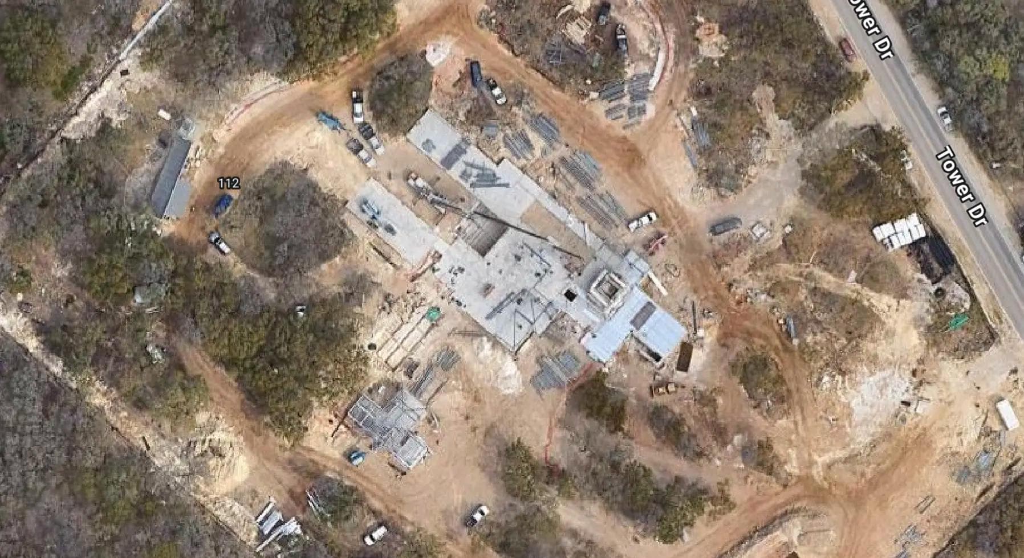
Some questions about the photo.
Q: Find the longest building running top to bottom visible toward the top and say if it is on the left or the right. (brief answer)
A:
left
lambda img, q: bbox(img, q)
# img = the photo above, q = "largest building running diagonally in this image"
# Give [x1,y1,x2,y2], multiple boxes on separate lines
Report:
[346,109,687,365]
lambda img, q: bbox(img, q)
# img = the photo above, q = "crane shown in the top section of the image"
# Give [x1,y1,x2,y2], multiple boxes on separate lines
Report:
[408,171,581,258]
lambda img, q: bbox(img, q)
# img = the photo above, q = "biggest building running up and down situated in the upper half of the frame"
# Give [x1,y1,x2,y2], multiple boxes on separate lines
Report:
[150,138,193,218]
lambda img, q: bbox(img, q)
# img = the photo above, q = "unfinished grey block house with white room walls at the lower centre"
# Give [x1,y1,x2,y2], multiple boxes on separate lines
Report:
[348,389,428,468]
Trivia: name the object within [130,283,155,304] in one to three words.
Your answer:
shed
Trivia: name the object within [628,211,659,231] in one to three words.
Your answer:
vehicle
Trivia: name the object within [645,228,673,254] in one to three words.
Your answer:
work vehicle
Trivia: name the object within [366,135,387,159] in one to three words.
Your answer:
truck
